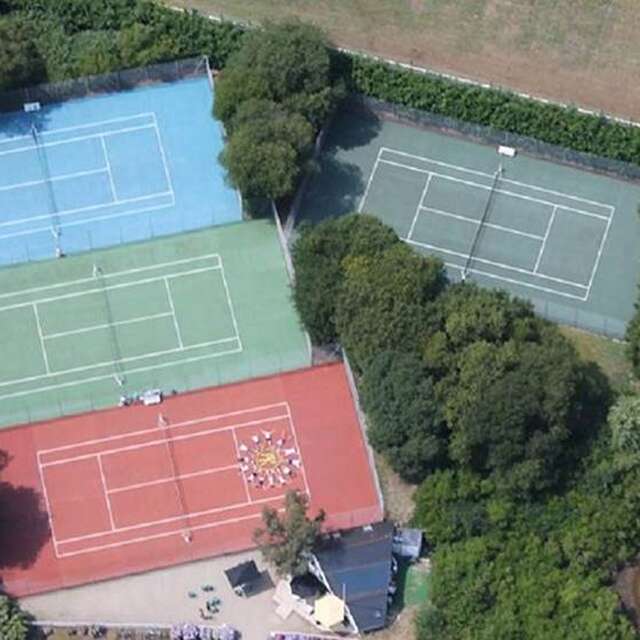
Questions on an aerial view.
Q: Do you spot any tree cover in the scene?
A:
Yes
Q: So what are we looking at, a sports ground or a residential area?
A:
sports ground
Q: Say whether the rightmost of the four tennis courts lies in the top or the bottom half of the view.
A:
top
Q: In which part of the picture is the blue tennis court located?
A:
top left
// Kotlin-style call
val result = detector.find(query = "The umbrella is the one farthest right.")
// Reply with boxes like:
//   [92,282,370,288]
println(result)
[314,595,345,628]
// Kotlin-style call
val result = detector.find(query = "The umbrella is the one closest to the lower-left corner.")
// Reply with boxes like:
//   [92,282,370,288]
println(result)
[225,562,261,589]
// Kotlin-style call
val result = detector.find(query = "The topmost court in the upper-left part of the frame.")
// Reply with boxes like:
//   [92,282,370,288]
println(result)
[0,81,242,266]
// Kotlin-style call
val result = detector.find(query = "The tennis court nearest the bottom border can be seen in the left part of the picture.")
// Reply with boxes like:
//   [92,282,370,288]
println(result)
[0,361,382,595]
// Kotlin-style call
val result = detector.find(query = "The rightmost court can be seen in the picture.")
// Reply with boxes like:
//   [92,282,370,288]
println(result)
[288,107,640,340]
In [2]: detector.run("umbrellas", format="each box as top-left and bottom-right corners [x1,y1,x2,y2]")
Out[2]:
[225,562,261,589]
[286,573,321,603]
[314,595,345,628]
